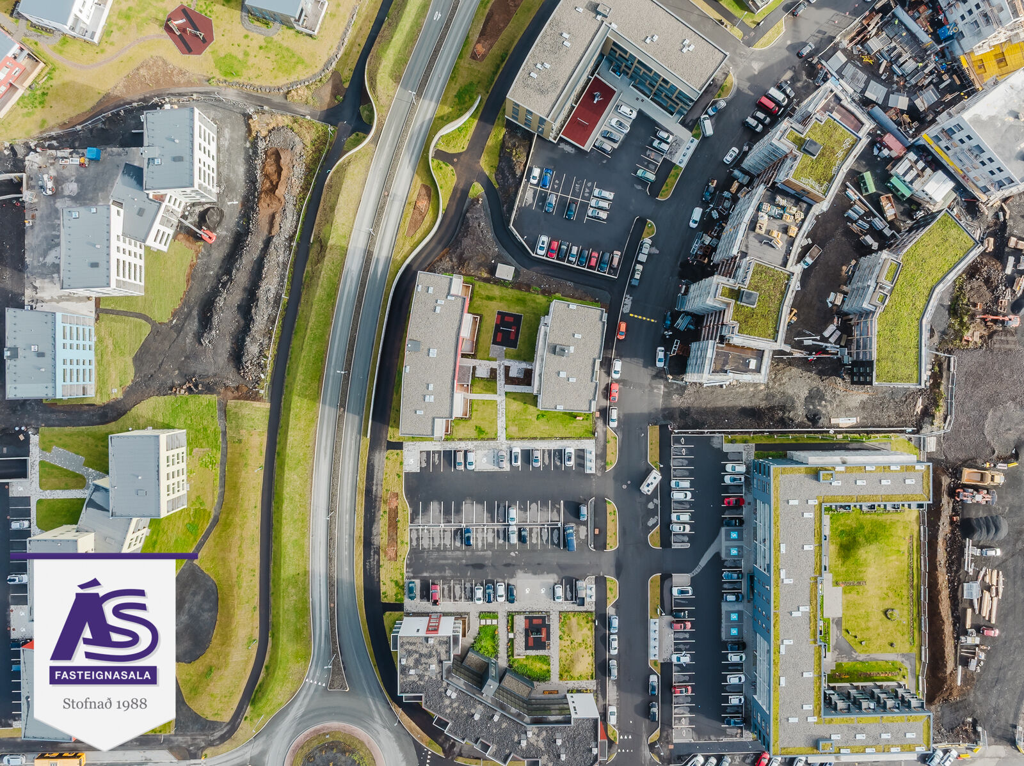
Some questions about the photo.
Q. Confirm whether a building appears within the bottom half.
Yes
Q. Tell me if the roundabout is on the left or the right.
left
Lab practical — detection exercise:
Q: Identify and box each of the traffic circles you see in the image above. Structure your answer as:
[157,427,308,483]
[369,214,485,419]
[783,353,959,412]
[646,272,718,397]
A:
[221,675,461,766]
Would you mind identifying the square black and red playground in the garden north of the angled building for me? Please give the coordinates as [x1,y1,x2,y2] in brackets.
[524,616,546,651]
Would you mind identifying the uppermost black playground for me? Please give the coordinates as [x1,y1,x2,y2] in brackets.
[492,310,523,349]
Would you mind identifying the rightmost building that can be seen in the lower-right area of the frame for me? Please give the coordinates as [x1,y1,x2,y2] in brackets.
[751,450,934,763]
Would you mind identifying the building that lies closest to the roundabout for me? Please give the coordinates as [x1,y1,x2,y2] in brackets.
[391,617,608,766]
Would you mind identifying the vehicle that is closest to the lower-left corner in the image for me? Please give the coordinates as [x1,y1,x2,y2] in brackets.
[5,753,26,765]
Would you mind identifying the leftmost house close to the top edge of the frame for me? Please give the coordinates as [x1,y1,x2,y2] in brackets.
[0,29,53,129]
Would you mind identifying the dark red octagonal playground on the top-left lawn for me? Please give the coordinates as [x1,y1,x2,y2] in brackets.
[163,3,214,55]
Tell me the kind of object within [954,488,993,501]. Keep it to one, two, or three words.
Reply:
vehicle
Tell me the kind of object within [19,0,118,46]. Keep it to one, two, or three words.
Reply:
house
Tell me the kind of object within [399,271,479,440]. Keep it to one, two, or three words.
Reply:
building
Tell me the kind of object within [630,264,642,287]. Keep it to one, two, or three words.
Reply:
vehicle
